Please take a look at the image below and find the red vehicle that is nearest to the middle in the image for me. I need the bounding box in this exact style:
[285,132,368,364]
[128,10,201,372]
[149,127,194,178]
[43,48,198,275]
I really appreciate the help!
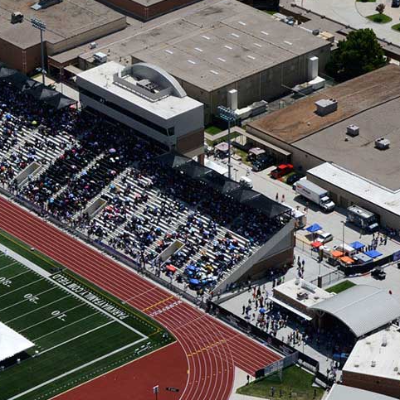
[270,161,294,176]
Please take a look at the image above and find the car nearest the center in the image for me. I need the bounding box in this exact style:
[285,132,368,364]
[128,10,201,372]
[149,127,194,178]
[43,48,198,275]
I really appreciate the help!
[235,170,255,186]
